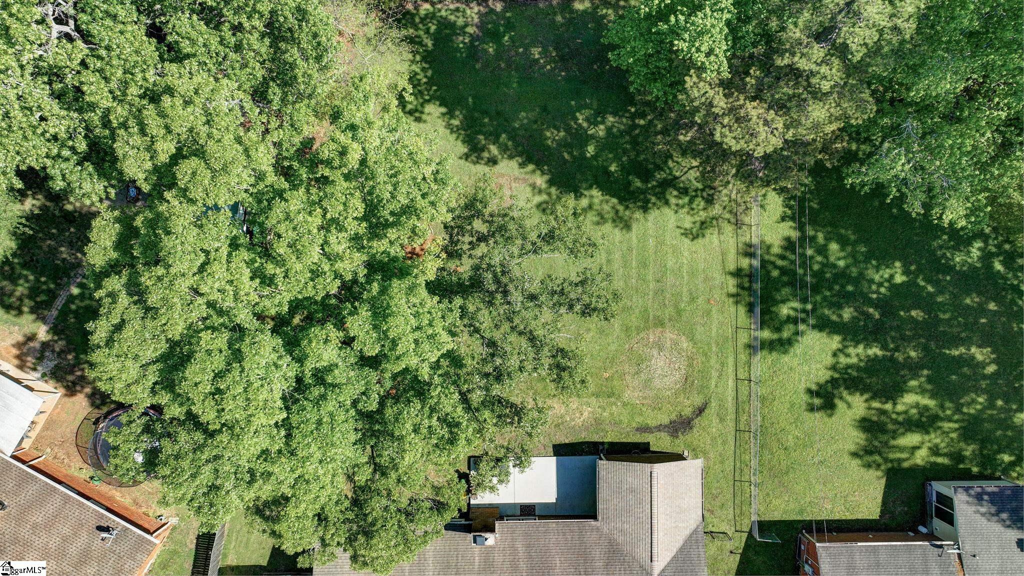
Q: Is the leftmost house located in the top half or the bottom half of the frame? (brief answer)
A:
bottom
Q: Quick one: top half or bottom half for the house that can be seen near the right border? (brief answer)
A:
bottom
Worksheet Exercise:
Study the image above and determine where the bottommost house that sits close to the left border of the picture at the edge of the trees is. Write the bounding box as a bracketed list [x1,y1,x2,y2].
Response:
[0,374,179,576]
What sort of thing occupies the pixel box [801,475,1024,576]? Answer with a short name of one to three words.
house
